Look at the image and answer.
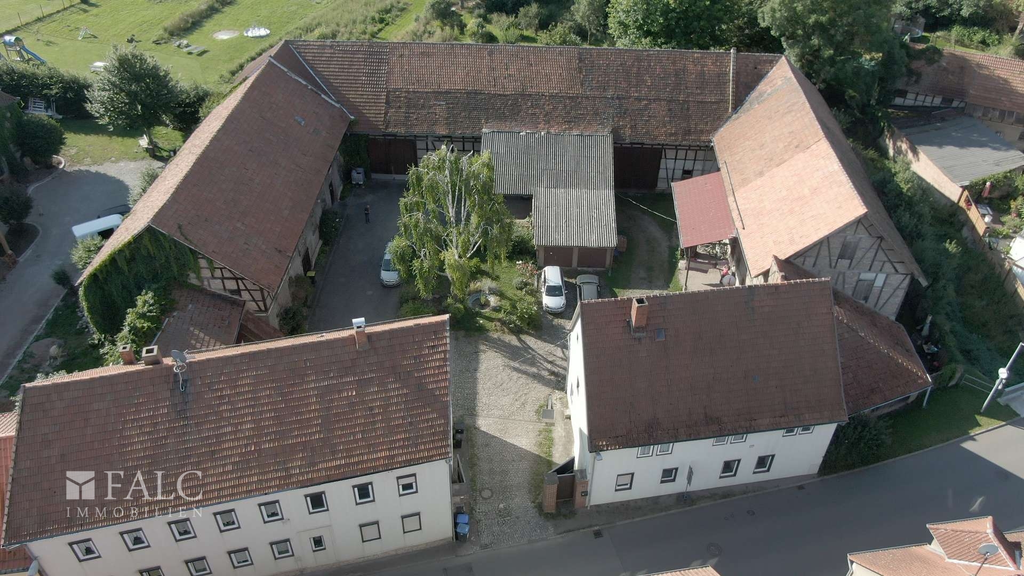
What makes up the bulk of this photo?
buildings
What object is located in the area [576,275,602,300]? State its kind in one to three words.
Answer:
car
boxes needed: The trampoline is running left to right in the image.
[242,26,270,38]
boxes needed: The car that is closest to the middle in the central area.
[541,266,569,310]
